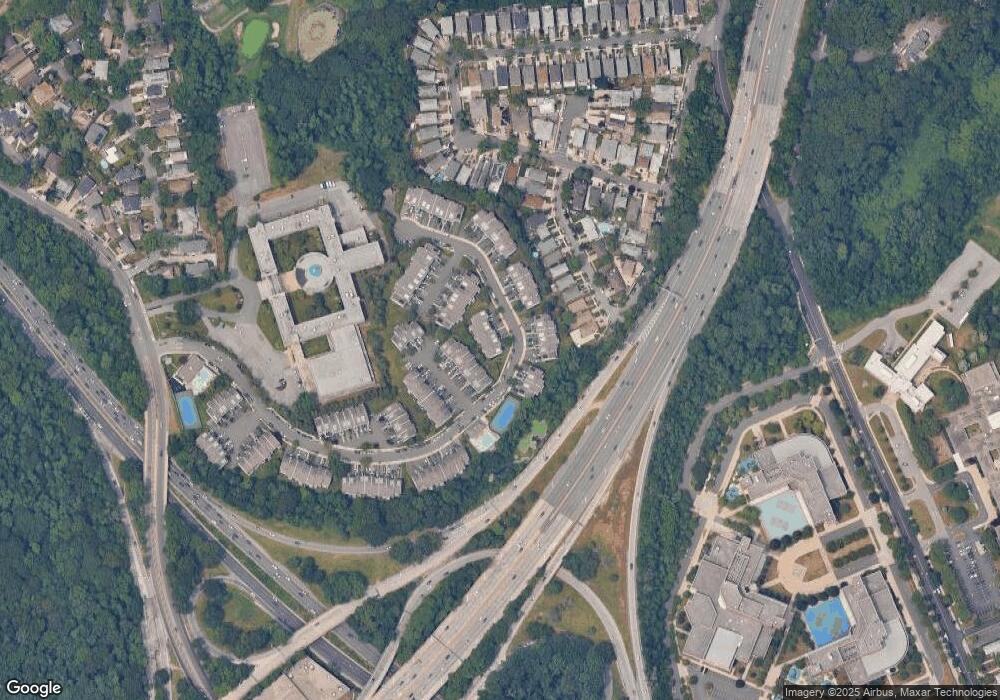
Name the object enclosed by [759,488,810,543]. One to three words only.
sports court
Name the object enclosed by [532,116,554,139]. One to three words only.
house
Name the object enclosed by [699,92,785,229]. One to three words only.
overpass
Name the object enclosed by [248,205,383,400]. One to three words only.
building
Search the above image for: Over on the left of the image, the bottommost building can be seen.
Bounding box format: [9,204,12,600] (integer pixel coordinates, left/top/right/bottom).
[250,656,351,700]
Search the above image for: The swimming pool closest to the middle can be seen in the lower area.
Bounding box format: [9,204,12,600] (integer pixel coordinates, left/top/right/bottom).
[471,430,500,452]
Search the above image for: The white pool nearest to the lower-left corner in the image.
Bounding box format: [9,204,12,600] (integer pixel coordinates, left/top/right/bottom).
[194,364,219,392]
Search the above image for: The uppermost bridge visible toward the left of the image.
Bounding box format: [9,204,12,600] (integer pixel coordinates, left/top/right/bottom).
[146,420,168,511]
